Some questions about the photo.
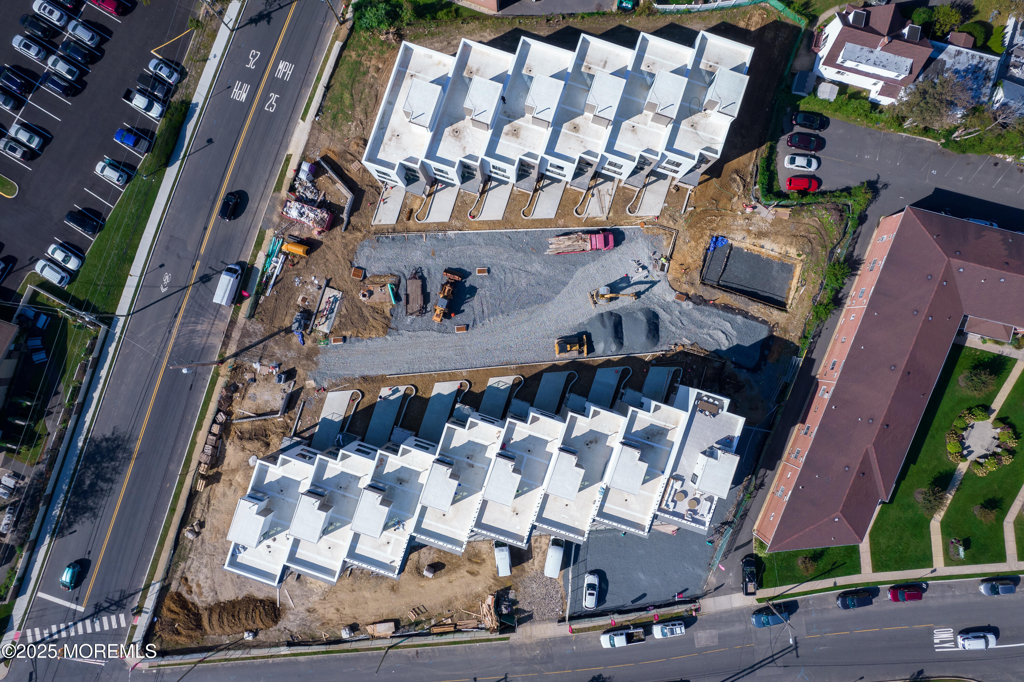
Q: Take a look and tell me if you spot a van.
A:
Yes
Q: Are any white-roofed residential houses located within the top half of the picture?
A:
Yes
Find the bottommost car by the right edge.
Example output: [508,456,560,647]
[956,631,997,653]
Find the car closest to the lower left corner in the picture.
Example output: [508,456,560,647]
[60,561,83,593]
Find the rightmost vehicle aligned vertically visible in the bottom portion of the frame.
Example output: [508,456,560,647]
[739,556,757,598]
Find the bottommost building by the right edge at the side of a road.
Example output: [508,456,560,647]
[756,205,1024,553]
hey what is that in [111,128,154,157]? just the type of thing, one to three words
truck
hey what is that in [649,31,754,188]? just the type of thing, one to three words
house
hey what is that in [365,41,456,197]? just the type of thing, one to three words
house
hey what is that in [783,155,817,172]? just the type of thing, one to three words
car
